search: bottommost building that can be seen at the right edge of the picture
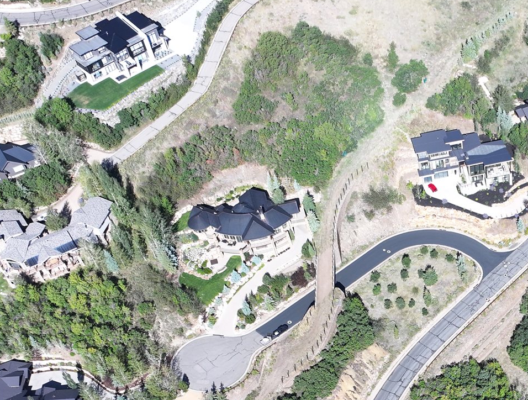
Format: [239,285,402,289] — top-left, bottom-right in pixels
[411,128,515,199]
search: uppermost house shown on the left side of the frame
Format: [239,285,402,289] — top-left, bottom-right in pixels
[69,11,167,84]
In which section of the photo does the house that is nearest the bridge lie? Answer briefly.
center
